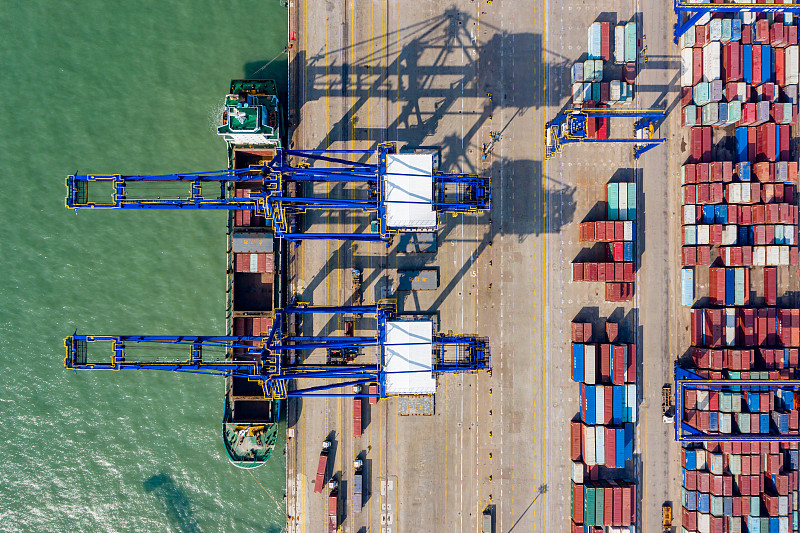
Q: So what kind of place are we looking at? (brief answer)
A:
port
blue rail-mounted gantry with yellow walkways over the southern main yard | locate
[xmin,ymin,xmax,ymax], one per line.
[673,360,800,439]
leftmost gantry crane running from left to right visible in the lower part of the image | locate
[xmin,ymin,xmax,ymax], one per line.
[65,290,489,406]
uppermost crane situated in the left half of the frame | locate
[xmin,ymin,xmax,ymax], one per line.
[65,139,489,253]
